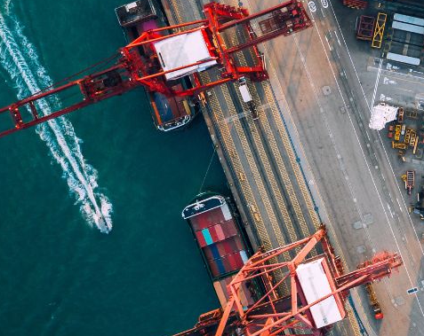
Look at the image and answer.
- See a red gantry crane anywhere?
Yes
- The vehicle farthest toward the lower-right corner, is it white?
No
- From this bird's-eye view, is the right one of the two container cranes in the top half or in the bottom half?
bottom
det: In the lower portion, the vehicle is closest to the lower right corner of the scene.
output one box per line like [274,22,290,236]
[364,281,384,318]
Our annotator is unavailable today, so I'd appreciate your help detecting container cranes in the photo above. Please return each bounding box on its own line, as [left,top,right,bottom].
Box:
[0,0,316,138]
[158,214,403,336]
